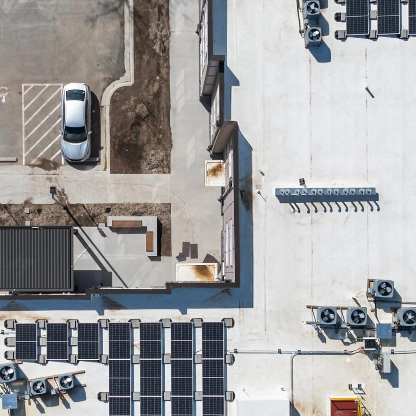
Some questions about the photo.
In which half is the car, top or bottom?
top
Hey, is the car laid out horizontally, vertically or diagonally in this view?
vertically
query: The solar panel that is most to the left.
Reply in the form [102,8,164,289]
[16,324,40,361]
